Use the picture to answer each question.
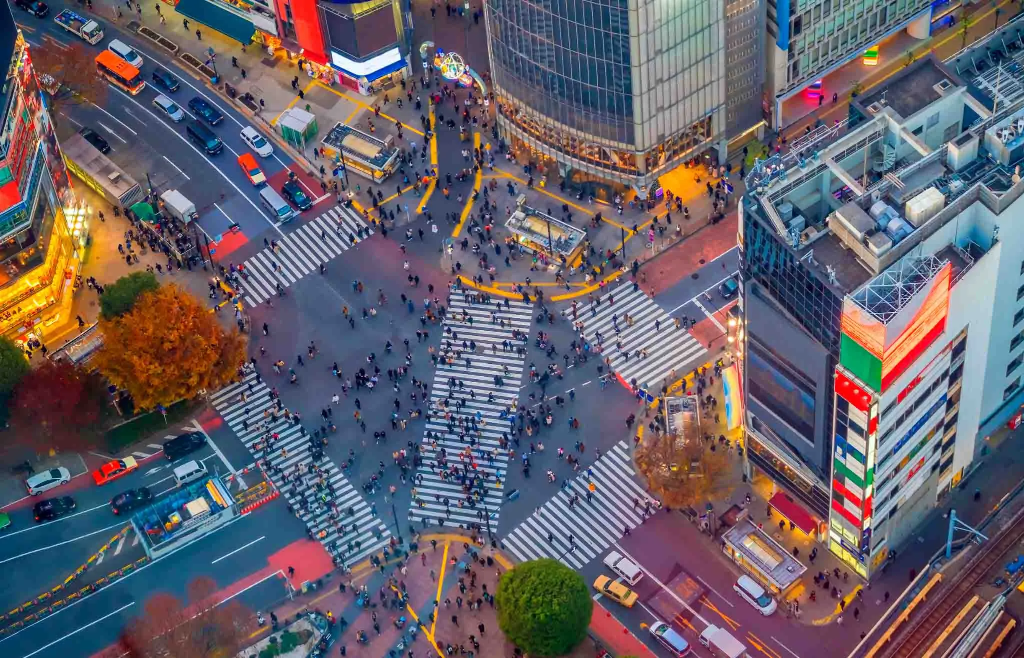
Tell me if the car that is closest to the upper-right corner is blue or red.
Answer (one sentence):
From above, the car that is closest to the upper-right corner appears blue.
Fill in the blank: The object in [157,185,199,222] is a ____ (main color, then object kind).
white truck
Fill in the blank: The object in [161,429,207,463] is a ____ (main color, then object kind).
black van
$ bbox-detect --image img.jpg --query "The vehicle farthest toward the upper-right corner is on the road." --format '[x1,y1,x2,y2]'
[710,273,742,304]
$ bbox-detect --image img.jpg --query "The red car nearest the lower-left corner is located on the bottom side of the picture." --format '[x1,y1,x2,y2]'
[92,456,138,486]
